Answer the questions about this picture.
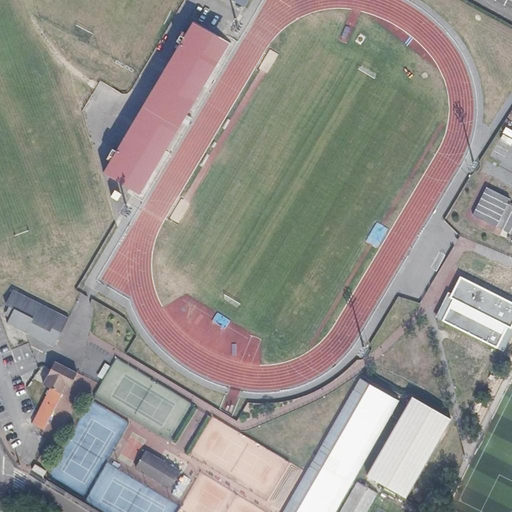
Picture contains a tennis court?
Yes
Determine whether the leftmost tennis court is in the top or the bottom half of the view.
bottom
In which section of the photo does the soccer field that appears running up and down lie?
bottom right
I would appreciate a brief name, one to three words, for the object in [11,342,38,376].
shed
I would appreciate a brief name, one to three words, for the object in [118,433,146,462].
sports court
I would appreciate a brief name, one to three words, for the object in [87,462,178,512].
tennis court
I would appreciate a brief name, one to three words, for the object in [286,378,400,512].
building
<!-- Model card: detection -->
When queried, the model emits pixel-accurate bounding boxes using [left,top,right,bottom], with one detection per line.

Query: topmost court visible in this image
[95,357,193,440]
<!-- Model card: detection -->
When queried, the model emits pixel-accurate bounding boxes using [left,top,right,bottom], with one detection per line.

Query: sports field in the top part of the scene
[152,8,449,364]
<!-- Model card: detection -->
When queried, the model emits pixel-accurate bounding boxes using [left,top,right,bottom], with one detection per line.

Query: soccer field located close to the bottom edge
[449,382,512,512]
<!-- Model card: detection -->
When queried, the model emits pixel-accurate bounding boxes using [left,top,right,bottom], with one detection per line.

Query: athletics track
[100,0,474,390]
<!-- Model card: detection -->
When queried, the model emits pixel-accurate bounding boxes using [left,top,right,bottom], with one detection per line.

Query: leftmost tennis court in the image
[48,402,127,496]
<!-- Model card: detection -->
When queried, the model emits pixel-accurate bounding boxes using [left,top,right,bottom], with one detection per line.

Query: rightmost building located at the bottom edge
[368,398,450,498]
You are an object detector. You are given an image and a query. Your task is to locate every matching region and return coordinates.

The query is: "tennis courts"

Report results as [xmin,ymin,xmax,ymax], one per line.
[87,462,178,512]
[190,418,290,499]
[95,357,193,440]
[176,474,234,512]
[226,495,267,512]
[48,402,127,496]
